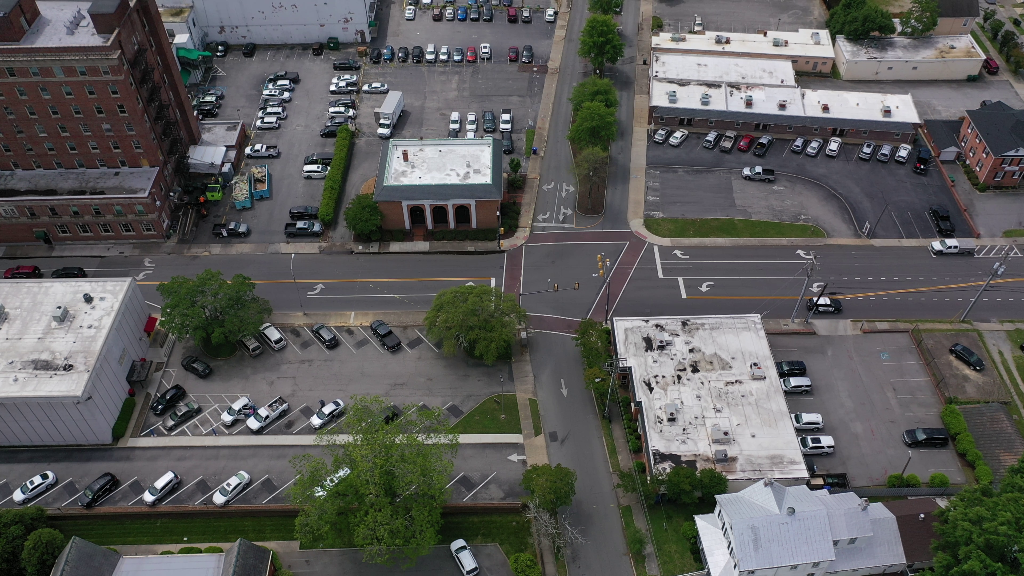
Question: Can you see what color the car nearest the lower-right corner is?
black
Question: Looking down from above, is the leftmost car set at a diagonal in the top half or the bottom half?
bottom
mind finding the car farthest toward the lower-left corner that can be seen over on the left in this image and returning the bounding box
[13,469,59,507]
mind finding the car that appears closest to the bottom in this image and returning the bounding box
[447,536,483,576]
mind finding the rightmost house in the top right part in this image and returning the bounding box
[958,97,1024,182]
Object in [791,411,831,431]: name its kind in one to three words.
car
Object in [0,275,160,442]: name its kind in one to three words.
building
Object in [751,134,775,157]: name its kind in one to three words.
truck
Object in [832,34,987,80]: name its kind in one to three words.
building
